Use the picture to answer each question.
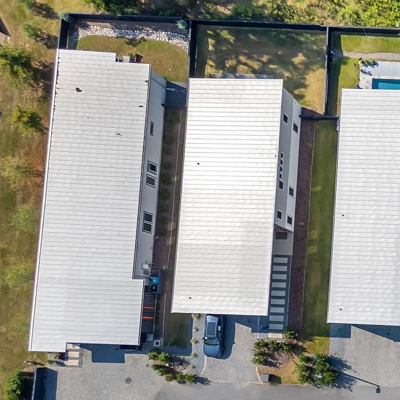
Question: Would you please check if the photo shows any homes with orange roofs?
No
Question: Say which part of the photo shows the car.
bottom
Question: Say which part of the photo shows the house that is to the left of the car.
left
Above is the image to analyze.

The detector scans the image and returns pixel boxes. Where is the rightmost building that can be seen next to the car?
[169,78,301,316]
